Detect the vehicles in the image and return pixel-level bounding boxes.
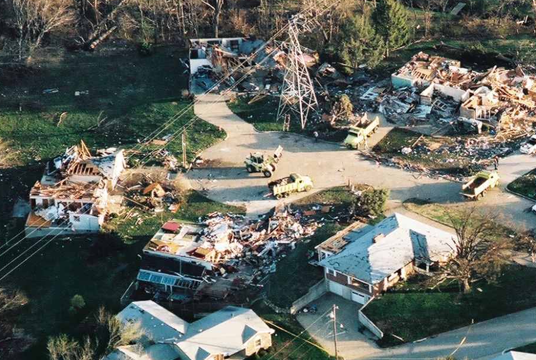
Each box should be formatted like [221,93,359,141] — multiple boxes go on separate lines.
[520,133,536,154]
[459,168,501,199]
[341,115,381,149]
[239,144,291,176]
[263,169,316,197]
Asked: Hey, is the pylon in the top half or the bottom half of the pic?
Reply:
top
